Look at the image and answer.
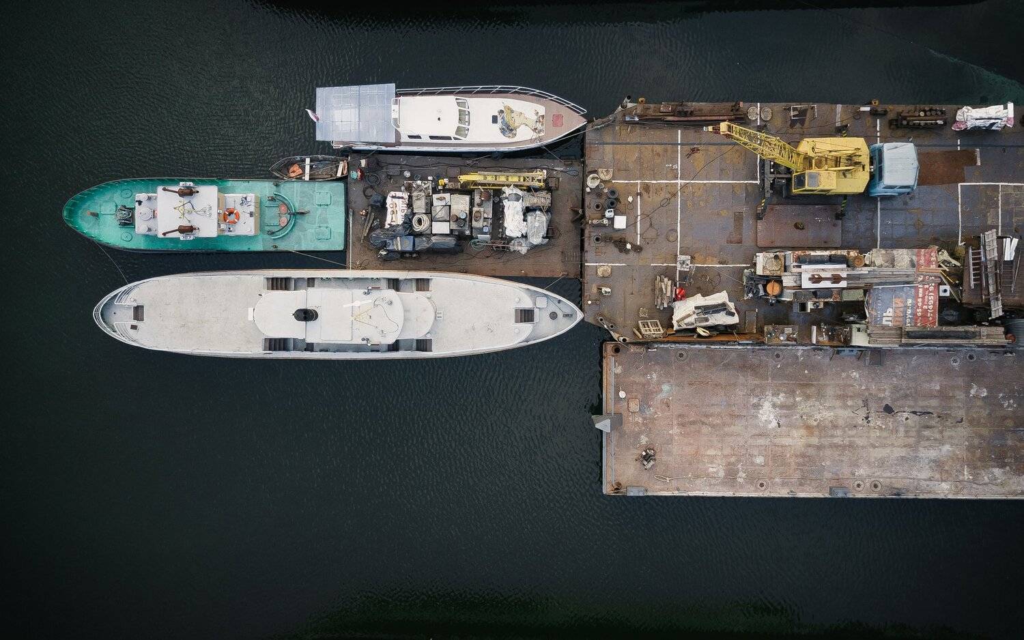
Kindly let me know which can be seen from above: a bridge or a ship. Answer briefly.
ship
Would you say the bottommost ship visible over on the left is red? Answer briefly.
No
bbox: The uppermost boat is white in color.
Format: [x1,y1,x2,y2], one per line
[306,84,588,160]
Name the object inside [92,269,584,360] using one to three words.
ship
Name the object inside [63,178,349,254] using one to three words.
boat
